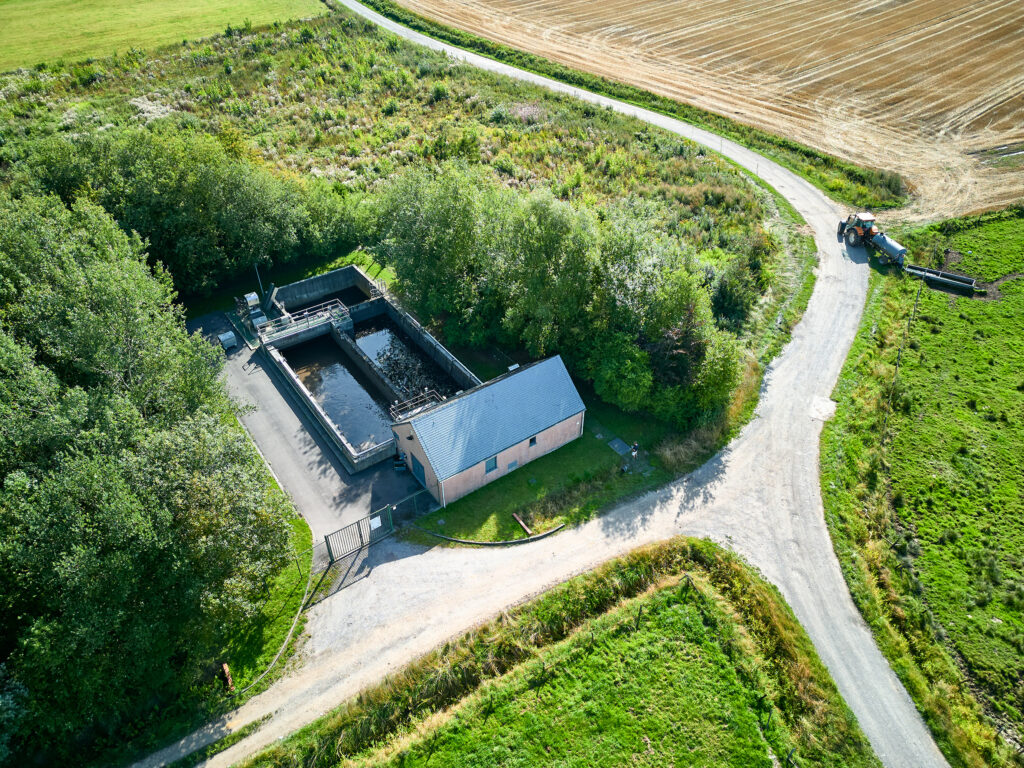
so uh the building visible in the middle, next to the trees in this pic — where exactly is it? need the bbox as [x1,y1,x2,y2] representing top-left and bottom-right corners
[392,353,586,508]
